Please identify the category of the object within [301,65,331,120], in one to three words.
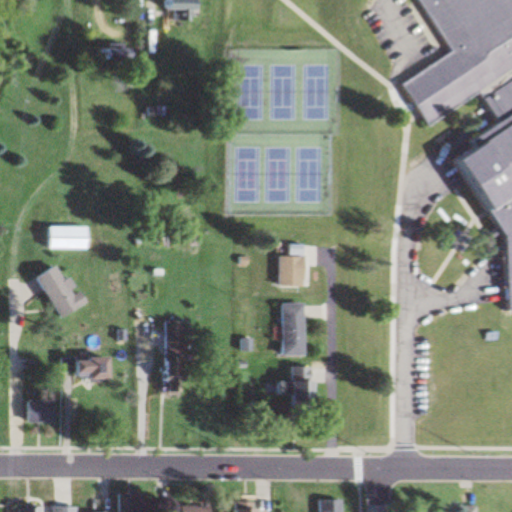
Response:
tennis court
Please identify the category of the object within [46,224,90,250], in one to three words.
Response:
shed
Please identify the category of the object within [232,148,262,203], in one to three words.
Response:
tennis court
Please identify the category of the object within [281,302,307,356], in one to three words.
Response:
house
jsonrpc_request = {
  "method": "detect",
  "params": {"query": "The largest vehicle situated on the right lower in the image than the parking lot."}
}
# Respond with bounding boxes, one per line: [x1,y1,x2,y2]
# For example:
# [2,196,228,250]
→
[435,142,452,166]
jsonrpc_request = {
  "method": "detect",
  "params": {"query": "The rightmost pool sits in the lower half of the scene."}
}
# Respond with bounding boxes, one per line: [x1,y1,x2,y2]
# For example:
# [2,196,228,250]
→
[86,334,100,350]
